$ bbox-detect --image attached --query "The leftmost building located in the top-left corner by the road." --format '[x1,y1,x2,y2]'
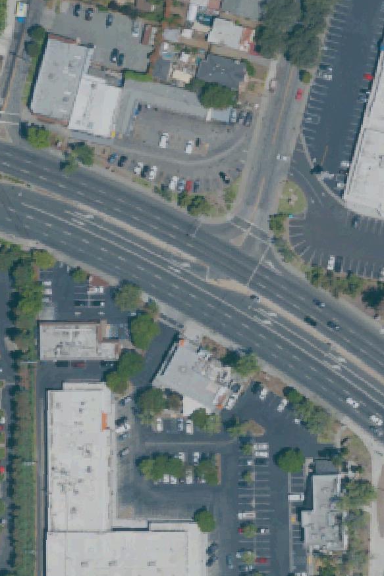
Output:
[31,33,95,129]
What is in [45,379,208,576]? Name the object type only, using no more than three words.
building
